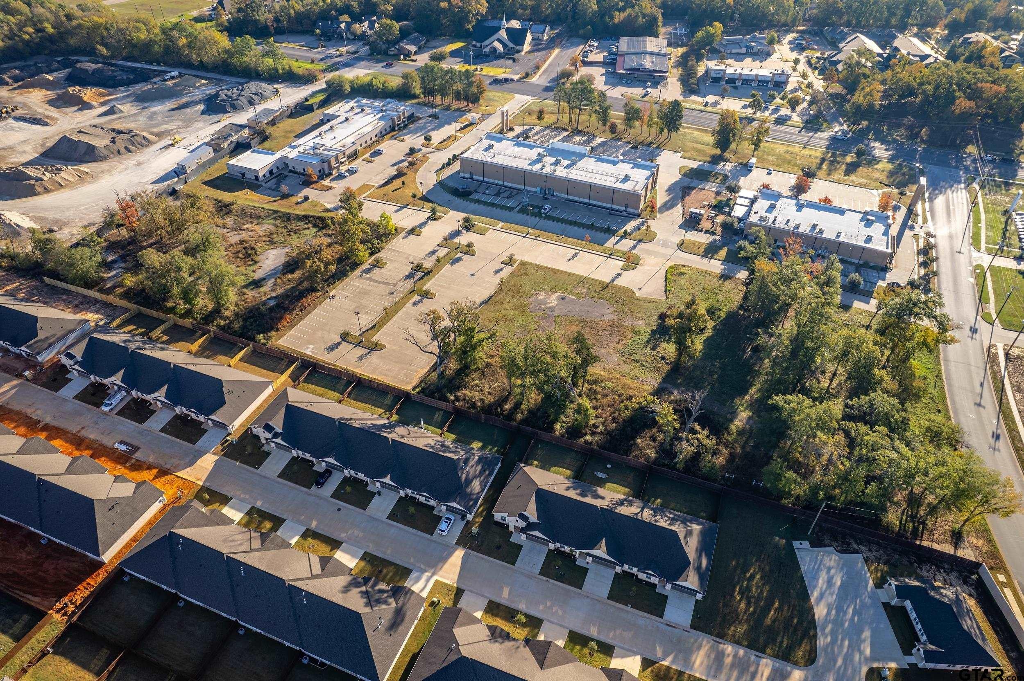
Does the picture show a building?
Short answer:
Yes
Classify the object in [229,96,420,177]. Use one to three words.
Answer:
building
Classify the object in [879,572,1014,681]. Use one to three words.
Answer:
house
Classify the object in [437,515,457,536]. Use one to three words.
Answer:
car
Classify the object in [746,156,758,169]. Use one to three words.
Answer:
vehicle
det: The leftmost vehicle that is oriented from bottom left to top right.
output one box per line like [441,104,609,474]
[101,388,127,411]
